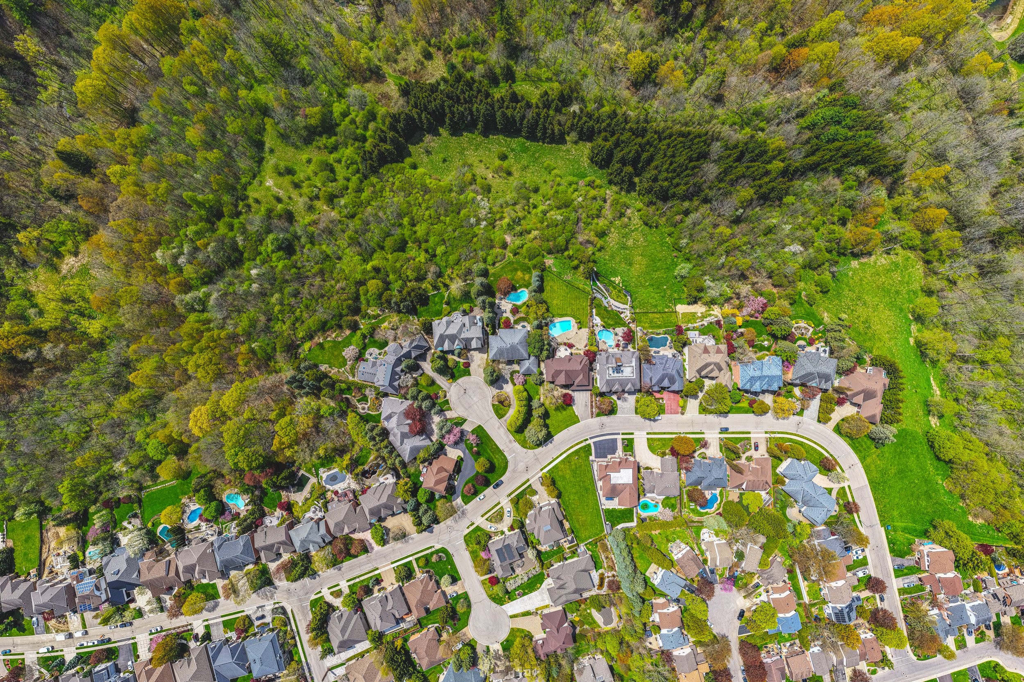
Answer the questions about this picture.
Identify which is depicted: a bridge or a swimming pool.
swimming pool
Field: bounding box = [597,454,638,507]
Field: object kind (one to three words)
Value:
house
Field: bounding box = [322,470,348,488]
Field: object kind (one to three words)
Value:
swimming pool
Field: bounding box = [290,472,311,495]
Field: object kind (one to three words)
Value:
swimming pool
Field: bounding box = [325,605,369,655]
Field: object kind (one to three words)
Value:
house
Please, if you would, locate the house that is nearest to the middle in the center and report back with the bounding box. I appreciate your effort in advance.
[489,328,538,374]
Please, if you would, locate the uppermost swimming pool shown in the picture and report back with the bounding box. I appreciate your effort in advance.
[505,289,530,304]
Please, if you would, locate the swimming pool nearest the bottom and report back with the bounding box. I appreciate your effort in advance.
[596,607,615,628]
